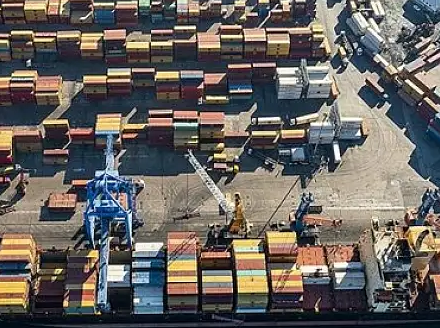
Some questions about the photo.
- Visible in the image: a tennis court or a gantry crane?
gantry crane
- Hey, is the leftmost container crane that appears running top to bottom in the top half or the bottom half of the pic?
bottom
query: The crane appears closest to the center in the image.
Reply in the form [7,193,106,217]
[173,147,259,241]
